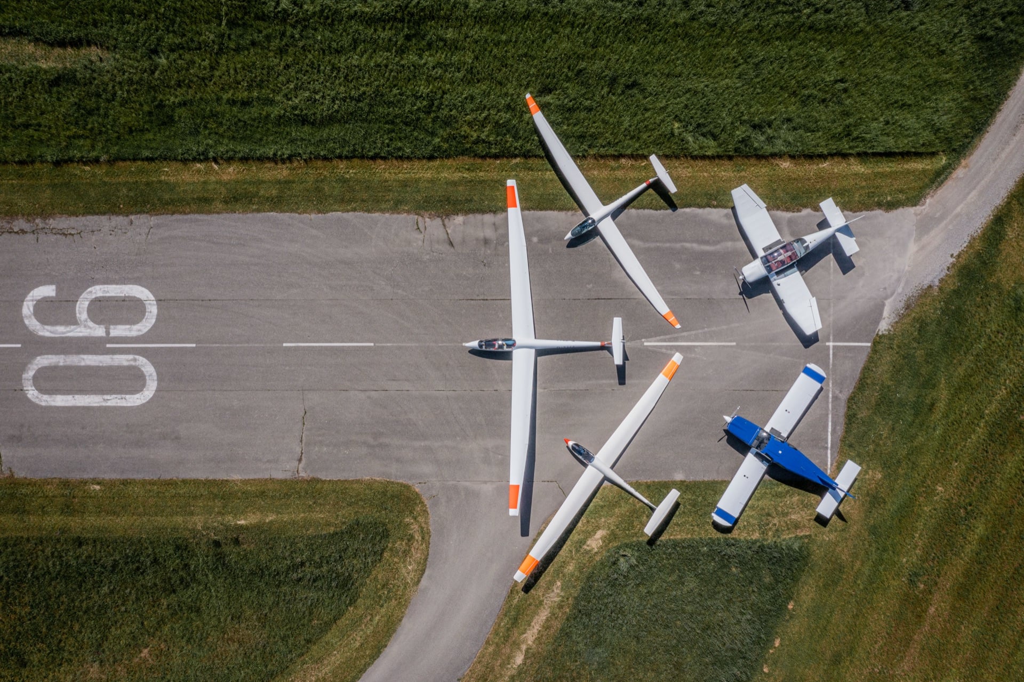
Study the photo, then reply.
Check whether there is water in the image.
No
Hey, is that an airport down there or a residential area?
airport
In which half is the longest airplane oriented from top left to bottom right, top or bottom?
top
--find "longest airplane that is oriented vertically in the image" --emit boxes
[465,180,625,516]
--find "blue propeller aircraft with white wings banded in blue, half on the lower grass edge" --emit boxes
[713,363,861,526]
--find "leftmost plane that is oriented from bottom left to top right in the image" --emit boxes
[514,353,683,582]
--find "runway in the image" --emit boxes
[0,207,916,682]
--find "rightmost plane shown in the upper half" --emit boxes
[731,184,859,335]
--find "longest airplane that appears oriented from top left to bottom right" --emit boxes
[526,94,681,328]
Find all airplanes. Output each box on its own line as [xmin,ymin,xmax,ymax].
[514,353,683,582]
[713,363,861,526]
[731,184,859,335]
[526,94,681,328]
[465,180,625,516]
